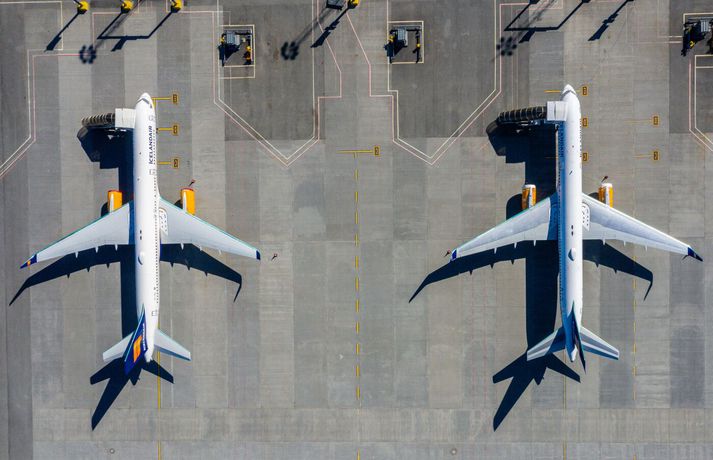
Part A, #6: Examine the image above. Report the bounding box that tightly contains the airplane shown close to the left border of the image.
[20,92,260,375]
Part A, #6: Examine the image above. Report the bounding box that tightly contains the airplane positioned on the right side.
[451,84,704,373]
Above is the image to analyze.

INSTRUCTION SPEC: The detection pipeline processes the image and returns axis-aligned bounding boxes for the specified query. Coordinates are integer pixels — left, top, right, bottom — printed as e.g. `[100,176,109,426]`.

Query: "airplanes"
[20,92,260,375]
[451,84,704,373]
